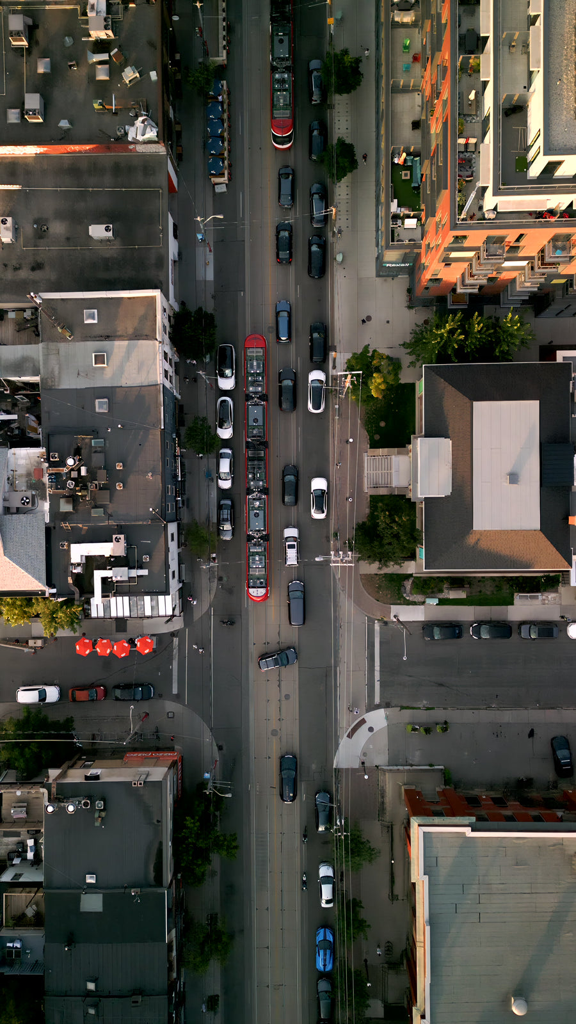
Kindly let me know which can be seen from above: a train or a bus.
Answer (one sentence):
Looking from above, you can make out a train.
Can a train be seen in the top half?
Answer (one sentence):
Yes, in the top half there is a train.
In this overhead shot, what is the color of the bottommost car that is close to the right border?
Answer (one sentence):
The color of the bottommost car that is close to the right border is black.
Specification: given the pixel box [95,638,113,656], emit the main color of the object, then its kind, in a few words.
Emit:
red umbrella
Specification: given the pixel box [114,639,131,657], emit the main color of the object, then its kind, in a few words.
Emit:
red umbrella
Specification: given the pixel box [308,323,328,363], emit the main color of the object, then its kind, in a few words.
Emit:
black car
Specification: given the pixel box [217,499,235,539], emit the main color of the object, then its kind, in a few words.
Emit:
black car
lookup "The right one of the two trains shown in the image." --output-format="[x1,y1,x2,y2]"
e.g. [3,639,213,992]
[270,0,294,152]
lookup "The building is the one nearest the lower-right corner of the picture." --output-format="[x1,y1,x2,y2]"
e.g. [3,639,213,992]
[402,789,576,1024]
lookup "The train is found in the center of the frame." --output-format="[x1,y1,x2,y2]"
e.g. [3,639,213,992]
[244,336,270,601]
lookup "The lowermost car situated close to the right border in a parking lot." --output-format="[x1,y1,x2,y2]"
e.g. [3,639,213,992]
[550,734,572,777]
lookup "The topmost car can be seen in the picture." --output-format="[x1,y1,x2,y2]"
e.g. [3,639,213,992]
[307,63,326,105]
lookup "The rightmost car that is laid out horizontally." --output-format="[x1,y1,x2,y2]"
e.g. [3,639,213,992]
[518,622,557,641]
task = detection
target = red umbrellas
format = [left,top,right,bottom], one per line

[114,639,131,657]
[76,637,94,655]
[95,638,113,656]
[136,636,154,654]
